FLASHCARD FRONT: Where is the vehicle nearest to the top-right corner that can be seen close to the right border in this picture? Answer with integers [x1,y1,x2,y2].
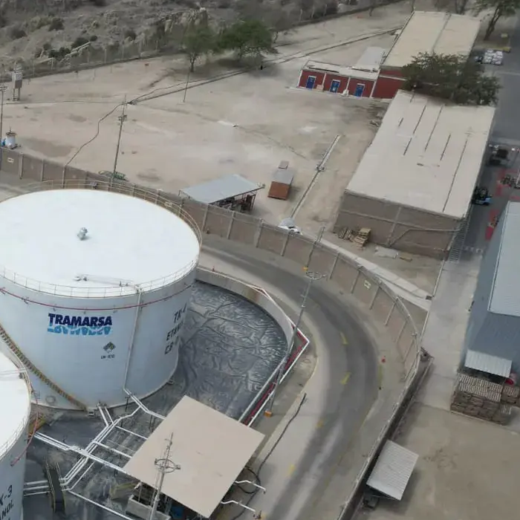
[488,146,510,162]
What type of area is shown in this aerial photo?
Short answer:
industrial area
